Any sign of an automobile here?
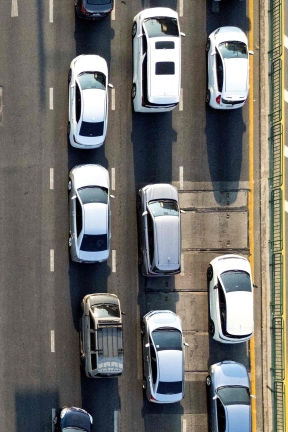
Yes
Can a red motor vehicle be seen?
No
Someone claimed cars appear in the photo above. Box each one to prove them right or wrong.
[207,361,257,432]
[140,183,187,278]
[68,163,115,263]
[68,54,114,150]
[54,407,94,432]
[143,309,189,405]
[207,25,255,110]
[209,254,260,344]
[81,291,128,379]
[73,0,114,23]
